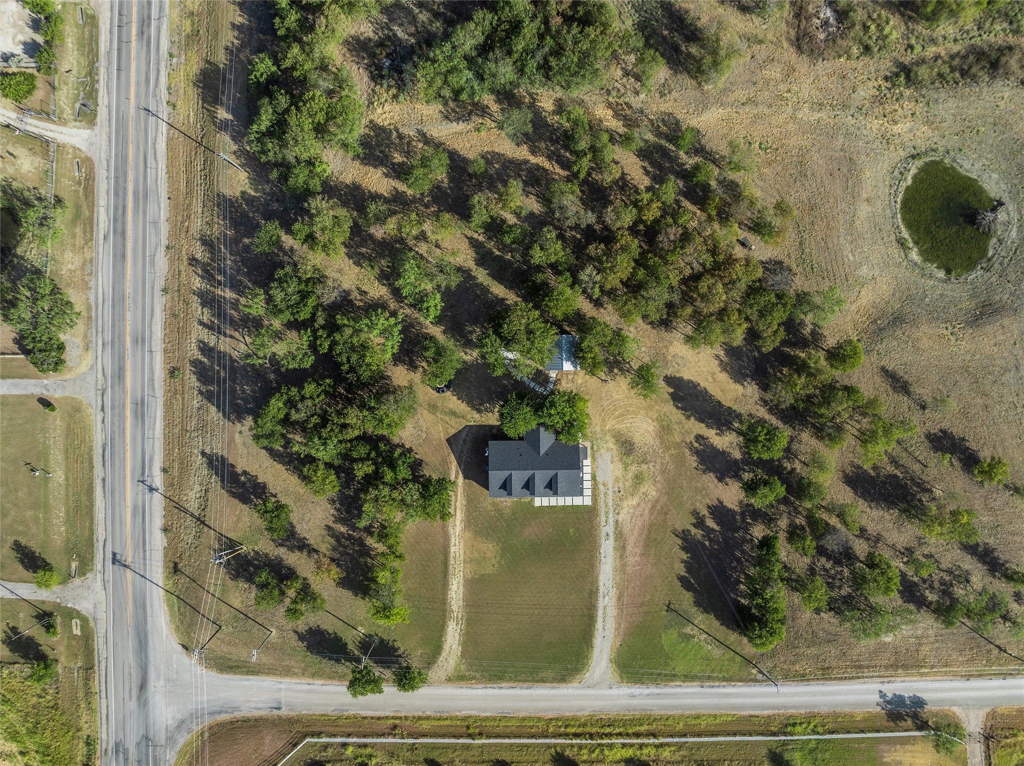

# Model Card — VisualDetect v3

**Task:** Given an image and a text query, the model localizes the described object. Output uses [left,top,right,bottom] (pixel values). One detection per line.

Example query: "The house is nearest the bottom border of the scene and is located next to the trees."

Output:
[489,422,587,498]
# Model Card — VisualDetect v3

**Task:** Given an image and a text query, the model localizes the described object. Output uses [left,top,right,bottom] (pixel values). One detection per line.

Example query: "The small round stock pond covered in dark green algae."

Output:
[897,158,997,277]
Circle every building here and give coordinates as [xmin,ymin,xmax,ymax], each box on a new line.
[489,422,587,498]
[545,335,581,370]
